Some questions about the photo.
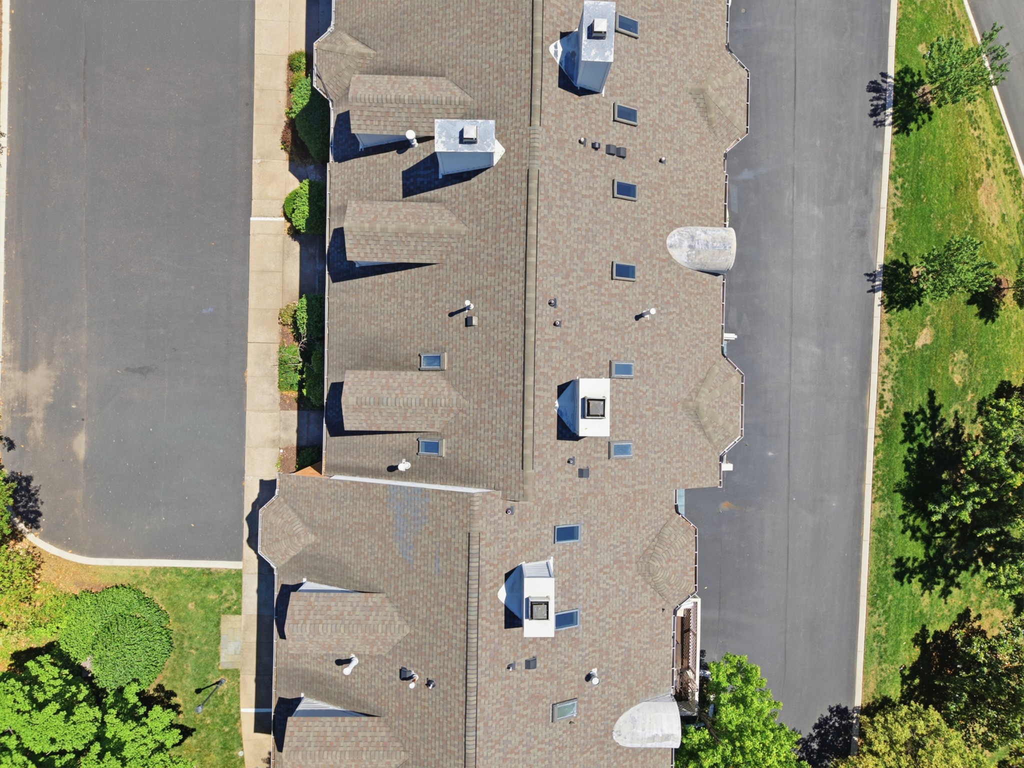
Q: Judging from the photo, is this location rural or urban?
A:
urban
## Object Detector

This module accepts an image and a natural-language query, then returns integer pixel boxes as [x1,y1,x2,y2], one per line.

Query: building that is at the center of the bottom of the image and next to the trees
[256,462,700,768]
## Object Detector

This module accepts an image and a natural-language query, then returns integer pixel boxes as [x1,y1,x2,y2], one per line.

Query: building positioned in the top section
[312,0,752,501]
